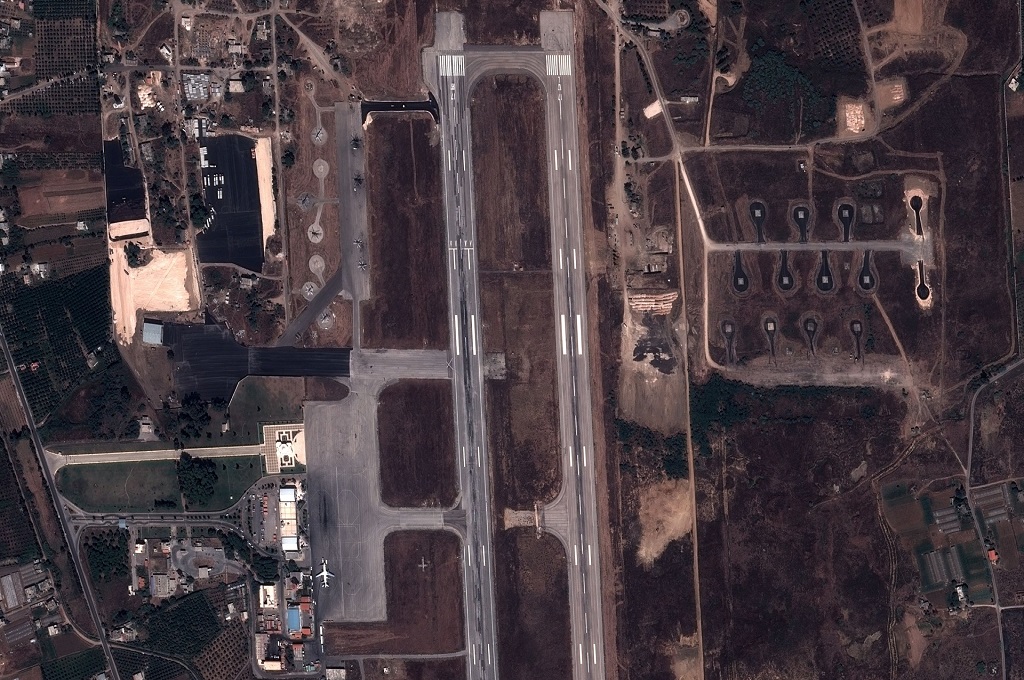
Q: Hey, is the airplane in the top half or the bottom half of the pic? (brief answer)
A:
bottom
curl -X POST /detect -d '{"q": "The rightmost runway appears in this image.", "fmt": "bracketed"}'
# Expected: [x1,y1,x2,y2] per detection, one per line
[542,50,604,680]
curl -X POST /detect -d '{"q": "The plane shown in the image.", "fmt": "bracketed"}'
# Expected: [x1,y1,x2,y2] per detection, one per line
[313,562,336,587]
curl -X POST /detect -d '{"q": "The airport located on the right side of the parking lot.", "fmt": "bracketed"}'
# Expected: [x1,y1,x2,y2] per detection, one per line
[278,11,604,680]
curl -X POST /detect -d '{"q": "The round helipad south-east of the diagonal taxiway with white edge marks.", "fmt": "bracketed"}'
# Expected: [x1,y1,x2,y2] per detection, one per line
[316,309,335,329]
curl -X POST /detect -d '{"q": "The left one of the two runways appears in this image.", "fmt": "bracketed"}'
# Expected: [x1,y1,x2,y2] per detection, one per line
[435,50,498,680]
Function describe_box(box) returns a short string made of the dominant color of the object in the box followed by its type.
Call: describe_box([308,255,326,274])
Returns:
gray helipad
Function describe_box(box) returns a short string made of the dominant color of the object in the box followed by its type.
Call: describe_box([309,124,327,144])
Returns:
gray helipad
